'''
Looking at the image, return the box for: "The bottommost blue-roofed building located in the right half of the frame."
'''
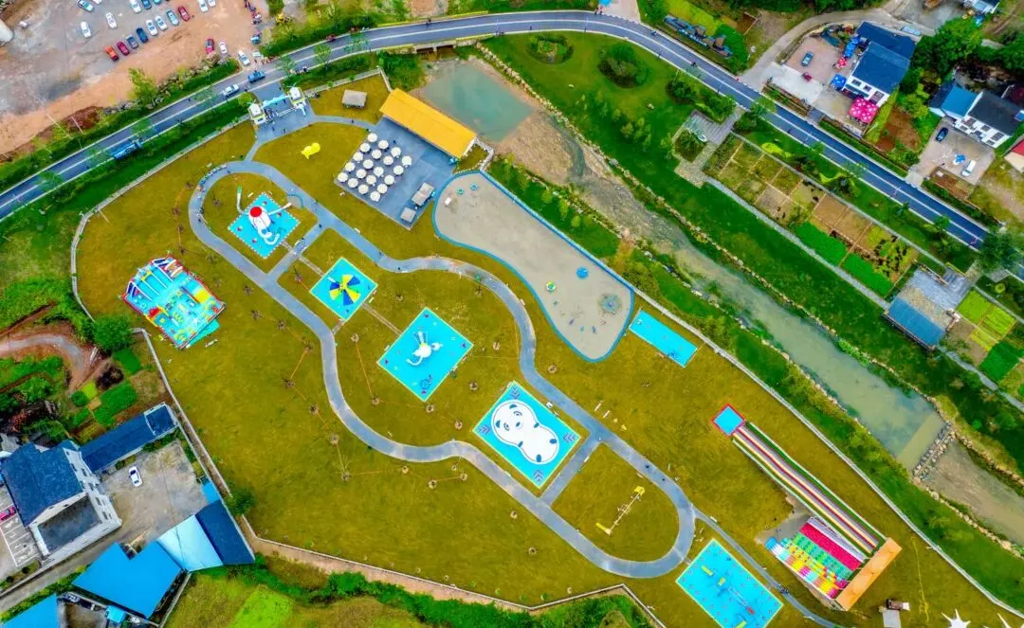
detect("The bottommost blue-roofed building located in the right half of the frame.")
[884,297,946,347]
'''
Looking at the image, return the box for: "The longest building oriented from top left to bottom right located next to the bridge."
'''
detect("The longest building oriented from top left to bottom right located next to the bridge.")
[380,89,475,159]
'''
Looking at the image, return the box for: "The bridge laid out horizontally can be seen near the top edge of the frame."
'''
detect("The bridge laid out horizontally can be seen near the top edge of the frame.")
[371,0,494,50]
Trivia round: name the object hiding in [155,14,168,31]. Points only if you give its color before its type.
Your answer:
white vehicle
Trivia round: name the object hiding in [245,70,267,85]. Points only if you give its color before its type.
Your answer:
blue vehicle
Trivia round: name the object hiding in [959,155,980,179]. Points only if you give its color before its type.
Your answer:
white vehicle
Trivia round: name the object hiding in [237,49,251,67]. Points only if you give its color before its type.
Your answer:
white car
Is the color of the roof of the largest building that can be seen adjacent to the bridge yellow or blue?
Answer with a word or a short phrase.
yellow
